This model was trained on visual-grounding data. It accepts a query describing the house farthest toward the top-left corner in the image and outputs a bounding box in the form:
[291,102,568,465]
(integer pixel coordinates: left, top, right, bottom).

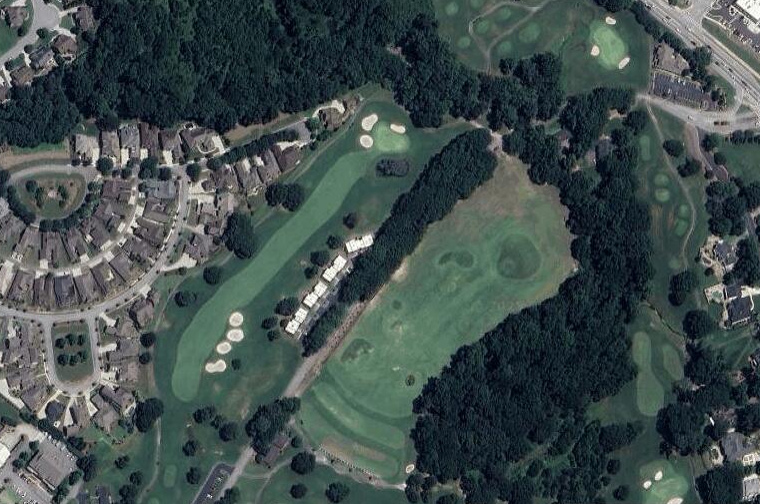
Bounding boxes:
[3,7,28,26]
